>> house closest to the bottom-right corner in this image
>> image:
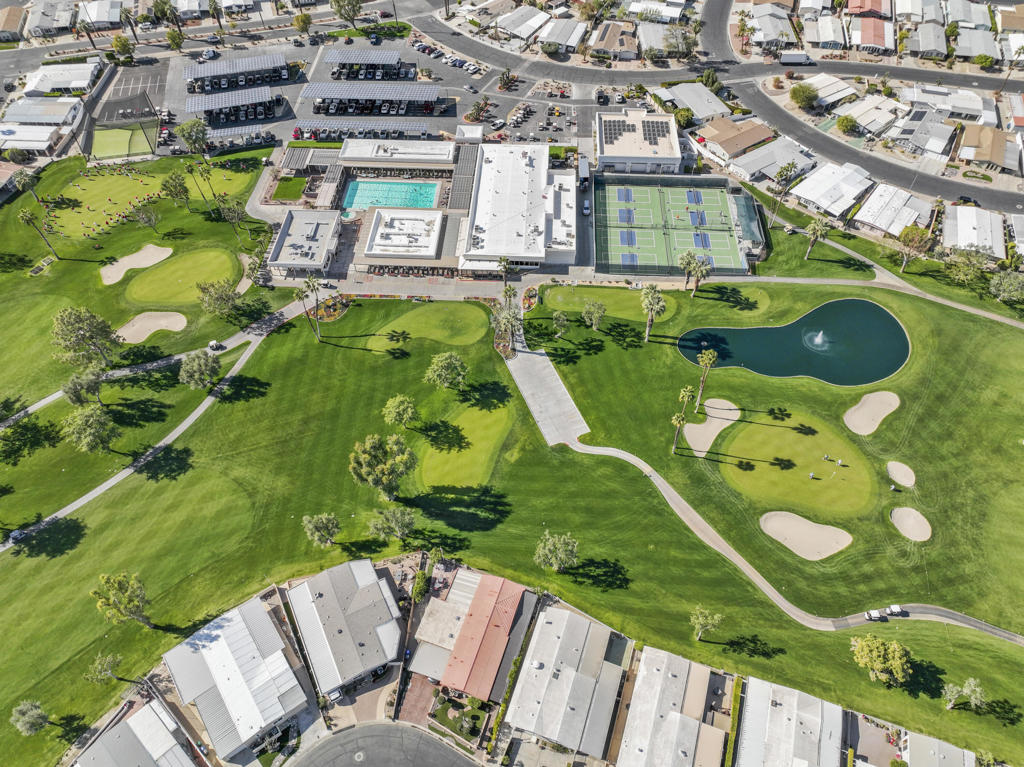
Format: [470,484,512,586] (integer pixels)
[902,731,975,767]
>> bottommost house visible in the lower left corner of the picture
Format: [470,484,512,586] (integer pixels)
[77,700,194,767]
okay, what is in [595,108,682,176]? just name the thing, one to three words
building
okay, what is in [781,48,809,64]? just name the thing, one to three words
vehicle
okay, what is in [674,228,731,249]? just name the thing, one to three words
sports court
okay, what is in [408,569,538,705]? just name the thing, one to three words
house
